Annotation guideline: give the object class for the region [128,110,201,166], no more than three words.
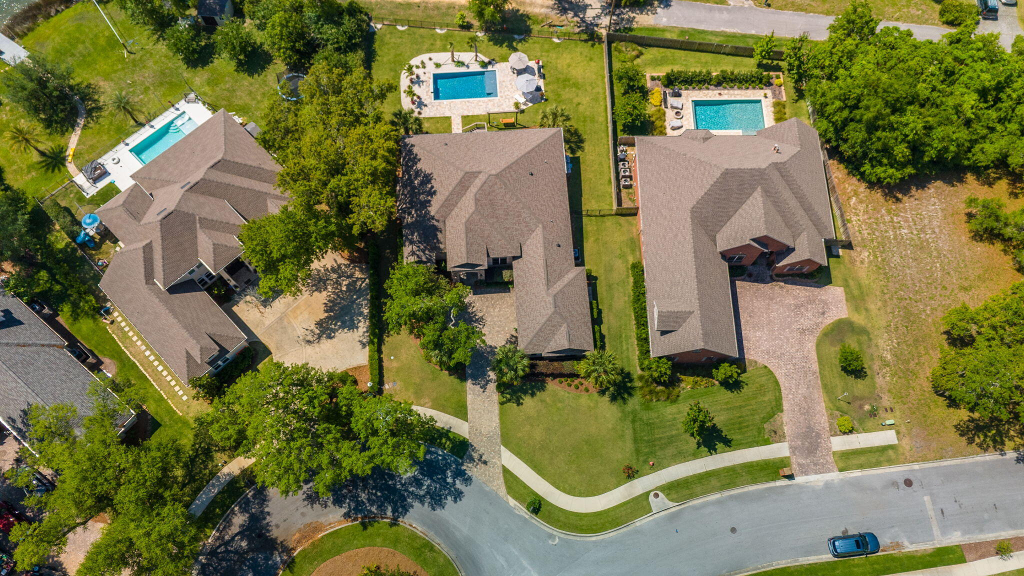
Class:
swimming pool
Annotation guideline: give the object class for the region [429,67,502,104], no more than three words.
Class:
swimming pool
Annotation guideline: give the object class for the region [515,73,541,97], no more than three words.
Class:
umbrella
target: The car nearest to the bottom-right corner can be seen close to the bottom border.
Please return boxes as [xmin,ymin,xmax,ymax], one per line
[826,531,880,559]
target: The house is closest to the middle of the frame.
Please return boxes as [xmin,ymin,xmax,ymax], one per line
[400,127,594,358]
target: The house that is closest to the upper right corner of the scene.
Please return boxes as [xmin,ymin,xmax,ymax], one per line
[632,117,836,365]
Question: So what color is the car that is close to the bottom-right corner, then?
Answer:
blue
